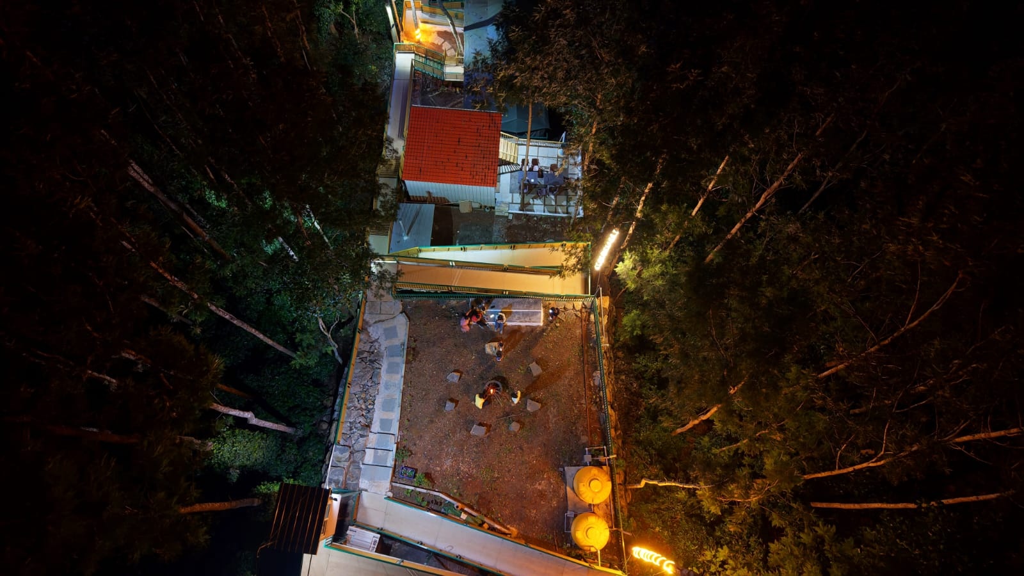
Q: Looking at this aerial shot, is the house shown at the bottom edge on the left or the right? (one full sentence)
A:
The house shown at the bottom edge is on the left side of the image.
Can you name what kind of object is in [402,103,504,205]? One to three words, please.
building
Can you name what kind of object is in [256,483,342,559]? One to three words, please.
house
